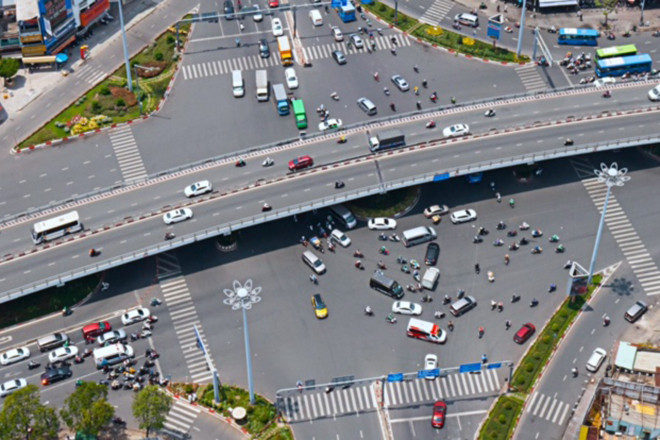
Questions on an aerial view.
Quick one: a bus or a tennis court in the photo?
bus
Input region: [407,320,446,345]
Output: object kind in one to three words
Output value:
vehicle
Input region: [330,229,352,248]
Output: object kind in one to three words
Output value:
car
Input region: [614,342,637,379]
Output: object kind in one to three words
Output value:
building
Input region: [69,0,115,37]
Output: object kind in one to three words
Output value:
building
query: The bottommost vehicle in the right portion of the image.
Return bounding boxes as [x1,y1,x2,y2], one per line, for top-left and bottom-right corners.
[432,402,447,429]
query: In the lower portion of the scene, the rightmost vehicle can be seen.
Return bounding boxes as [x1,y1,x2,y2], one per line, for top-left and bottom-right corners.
[623,301,649,323]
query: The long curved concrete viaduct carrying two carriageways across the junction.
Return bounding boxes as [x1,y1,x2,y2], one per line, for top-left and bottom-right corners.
[0,75,660,305]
